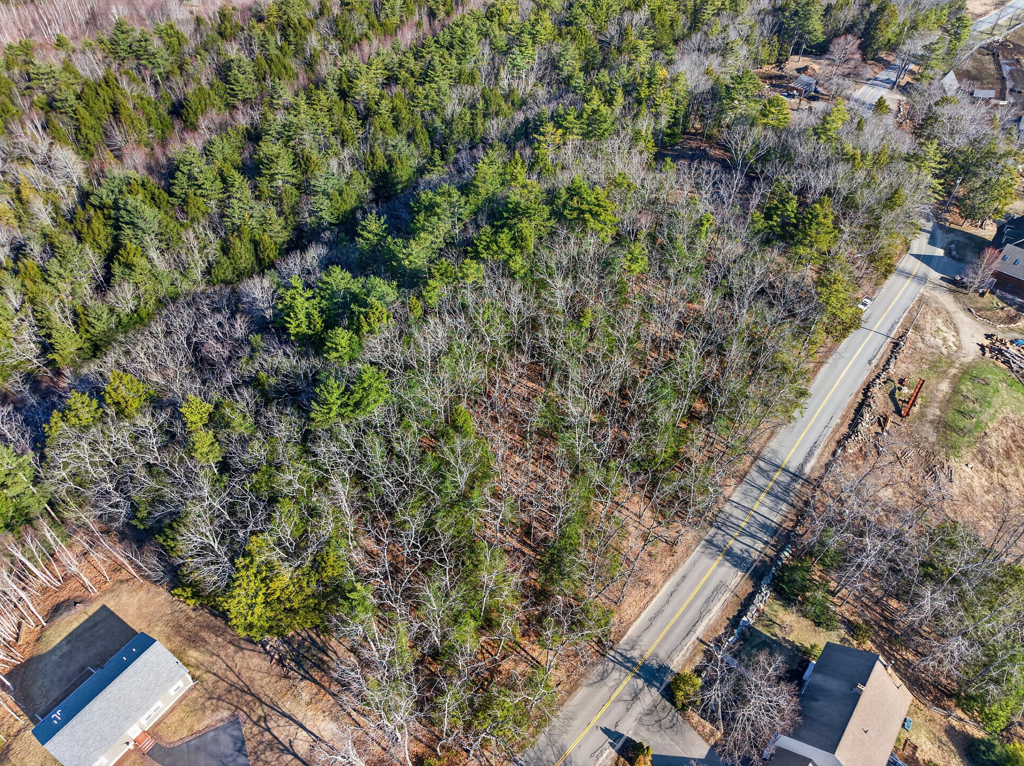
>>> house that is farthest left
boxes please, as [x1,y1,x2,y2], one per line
[30,630,202,766]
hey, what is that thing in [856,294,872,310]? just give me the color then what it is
white car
